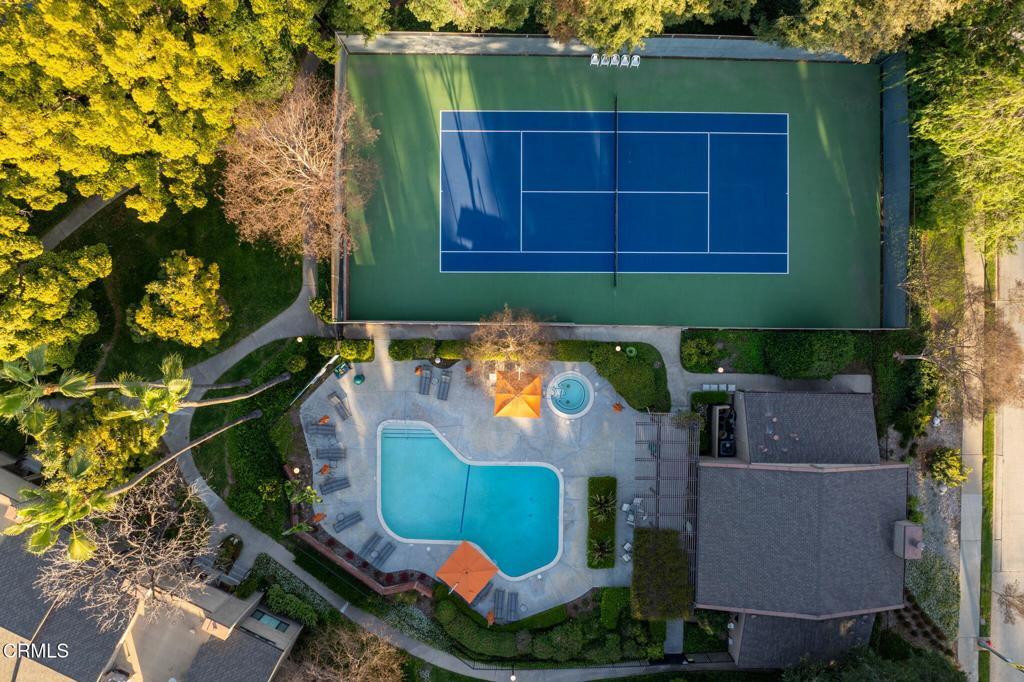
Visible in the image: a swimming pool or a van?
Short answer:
swimming pool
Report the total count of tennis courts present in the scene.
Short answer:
one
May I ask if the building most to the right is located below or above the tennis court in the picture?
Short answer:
below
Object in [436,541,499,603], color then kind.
orange umbrella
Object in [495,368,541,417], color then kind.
orange umbrella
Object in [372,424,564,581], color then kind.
blue swimming pool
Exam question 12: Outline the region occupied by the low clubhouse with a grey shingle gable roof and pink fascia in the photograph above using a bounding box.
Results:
[694,390,928,664]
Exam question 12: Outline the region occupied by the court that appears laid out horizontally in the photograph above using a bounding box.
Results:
[347,55,881,328]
